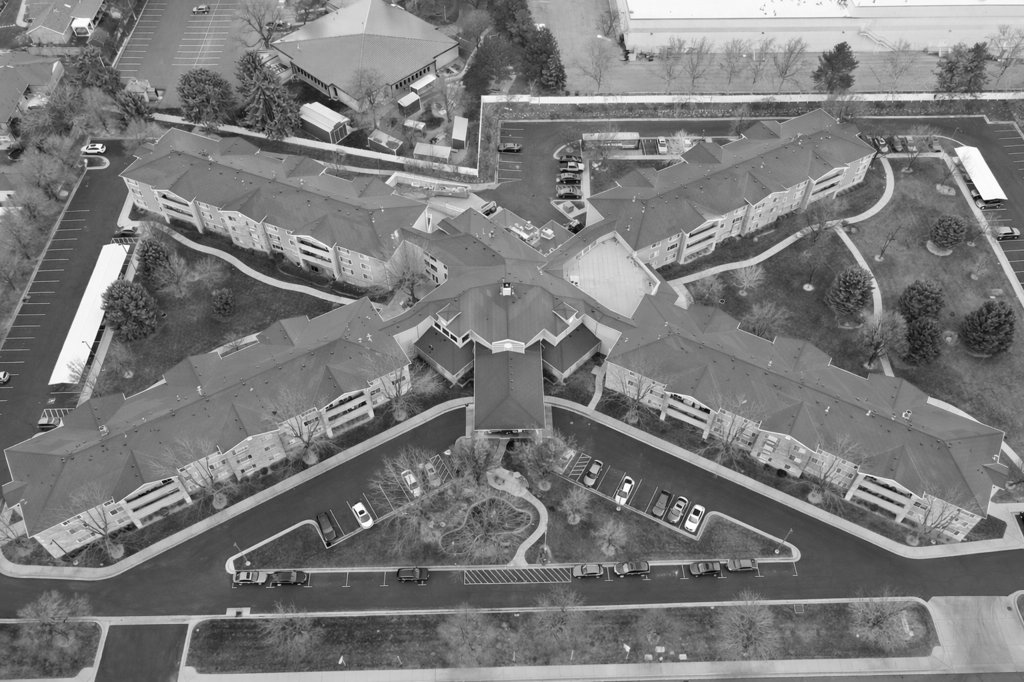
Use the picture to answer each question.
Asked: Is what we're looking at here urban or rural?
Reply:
urban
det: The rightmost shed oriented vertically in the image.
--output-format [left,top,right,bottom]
[452,116,468,151]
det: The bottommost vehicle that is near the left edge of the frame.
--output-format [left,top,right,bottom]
[34,415,66,430]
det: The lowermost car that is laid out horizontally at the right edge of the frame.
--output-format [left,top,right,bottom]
[993,227,1019,239]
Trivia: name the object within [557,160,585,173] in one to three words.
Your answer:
vehicle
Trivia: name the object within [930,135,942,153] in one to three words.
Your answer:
vehicle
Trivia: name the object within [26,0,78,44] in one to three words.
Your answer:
house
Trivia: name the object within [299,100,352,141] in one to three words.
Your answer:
barn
